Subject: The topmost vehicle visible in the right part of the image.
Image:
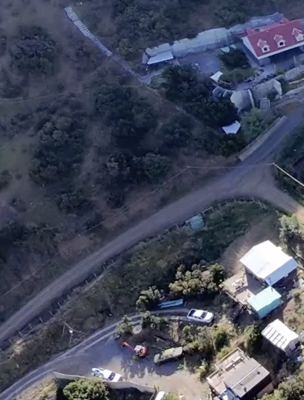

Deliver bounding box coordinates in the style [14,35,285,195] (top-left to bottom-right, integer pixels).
[185,307,214,323]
